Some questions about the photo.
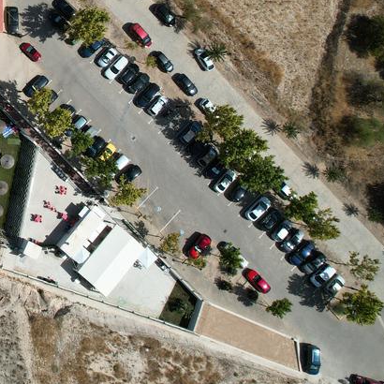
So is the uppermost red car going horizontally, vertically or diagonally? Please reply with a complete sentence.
Seen from above, the uppermost red car lies diagonally.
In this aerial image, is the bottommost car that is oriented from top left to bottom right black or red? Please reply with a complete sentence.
In this view, the bottommost car that is oriented from top left to bottom right is red.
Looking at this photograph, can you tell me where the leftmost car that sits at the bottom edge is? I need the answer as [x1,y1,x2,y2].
[306,342,323,373]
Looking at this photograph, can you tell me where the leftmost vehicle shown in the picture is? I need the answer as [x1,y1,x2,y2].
[6,6,19,33]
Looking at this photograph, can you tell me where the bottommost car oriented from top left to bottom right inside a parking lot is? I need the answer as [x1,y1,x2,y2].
[241,266,270,294]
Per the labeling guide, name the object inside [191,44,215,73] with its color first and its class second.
gray car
